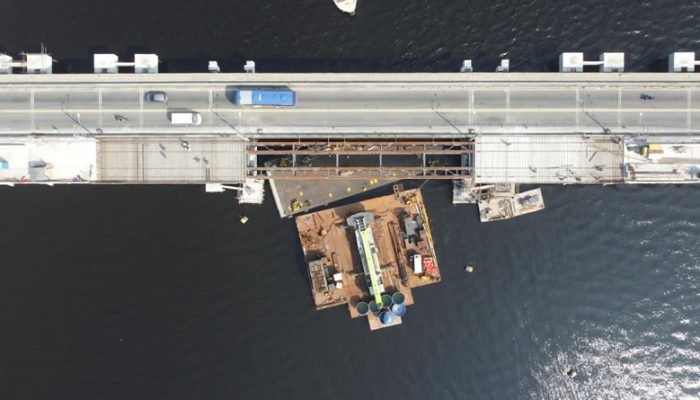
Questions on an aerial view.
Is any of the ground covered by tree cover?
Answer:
No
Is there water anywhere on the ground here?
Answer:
Yes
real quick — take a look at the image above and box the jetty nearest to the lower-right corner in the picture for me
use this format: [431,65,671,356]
[513,188,545,216]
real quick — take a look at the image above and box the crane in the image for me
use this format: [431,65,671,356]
[348,213,389,312]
